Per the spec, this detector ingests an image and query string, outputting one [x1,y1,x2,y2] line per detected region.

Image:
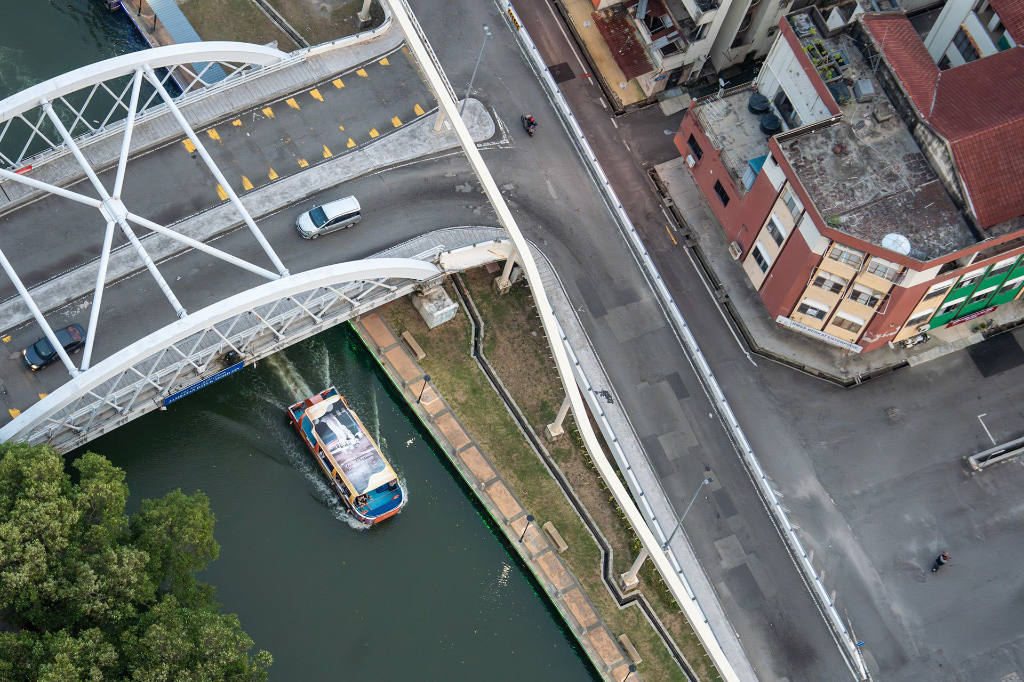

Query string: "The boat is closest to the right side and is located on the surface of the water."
[288,386,398,530]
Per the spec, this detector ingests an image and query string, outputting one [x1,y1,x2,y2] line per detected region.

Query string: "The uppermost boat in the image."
[95,0,126,21]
